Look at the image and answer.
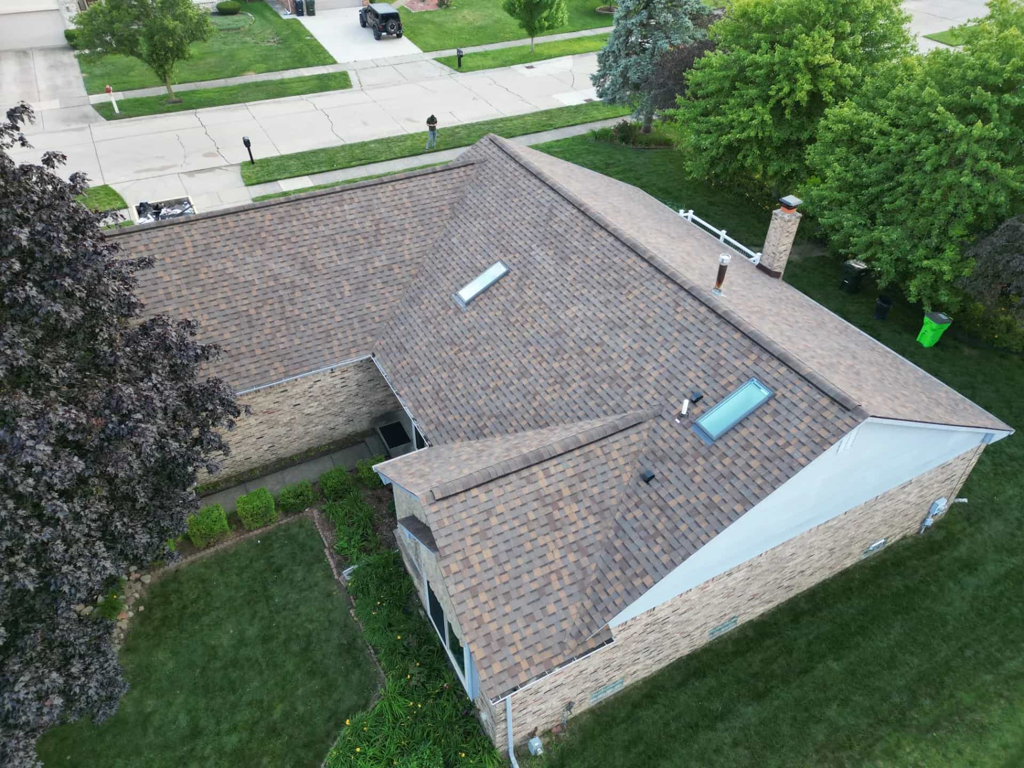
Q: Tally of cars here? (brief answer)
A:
1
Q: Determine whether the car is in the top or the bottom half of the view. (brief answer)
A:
top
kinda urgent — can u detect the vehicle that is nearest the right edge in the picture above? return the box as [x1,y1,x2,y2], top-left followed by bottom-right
[359,3,400,37]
